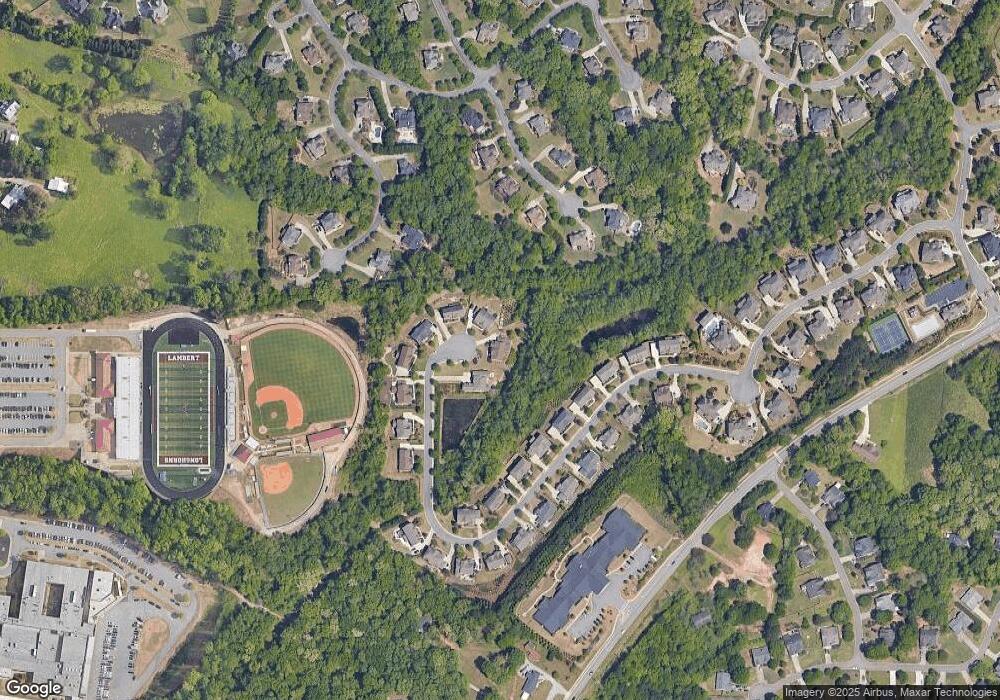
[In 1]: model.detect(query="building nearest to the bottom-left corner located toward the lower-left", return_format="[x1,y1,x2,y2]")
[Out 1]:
[0,561,114,698]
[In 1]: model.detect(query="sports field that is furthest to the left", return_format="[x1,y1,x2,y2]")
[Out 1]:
[153,328,215,489]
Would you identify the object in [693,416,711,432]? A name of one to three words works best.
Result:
swimming pool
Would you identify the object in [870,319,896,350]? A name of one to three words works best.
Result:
tennis court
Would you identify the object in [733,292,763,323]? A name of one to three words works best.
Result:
house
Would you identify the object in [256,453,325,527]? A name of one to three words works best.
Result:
baseball field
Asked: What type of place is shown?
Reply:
residential area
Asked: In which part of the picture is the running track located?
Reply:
left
